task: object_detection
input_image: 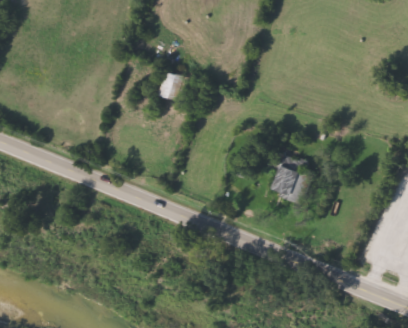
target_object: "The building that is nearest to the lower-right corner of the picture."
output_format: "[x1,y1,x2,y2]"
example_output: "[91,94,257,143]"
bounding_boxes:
[272,161,308,202]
